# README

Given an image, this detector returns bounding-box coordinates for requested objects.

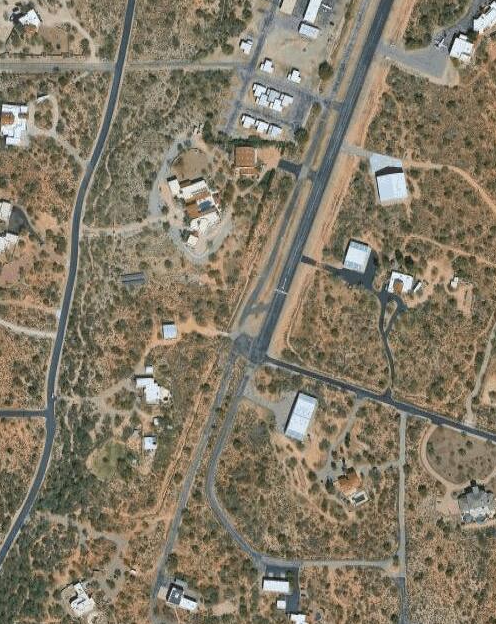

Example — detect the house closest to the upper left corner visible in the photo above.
[19,9,41,34]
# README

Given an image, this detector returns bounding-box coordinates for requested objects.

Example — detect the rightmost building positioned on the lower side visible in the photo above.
[460,486,495,514]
